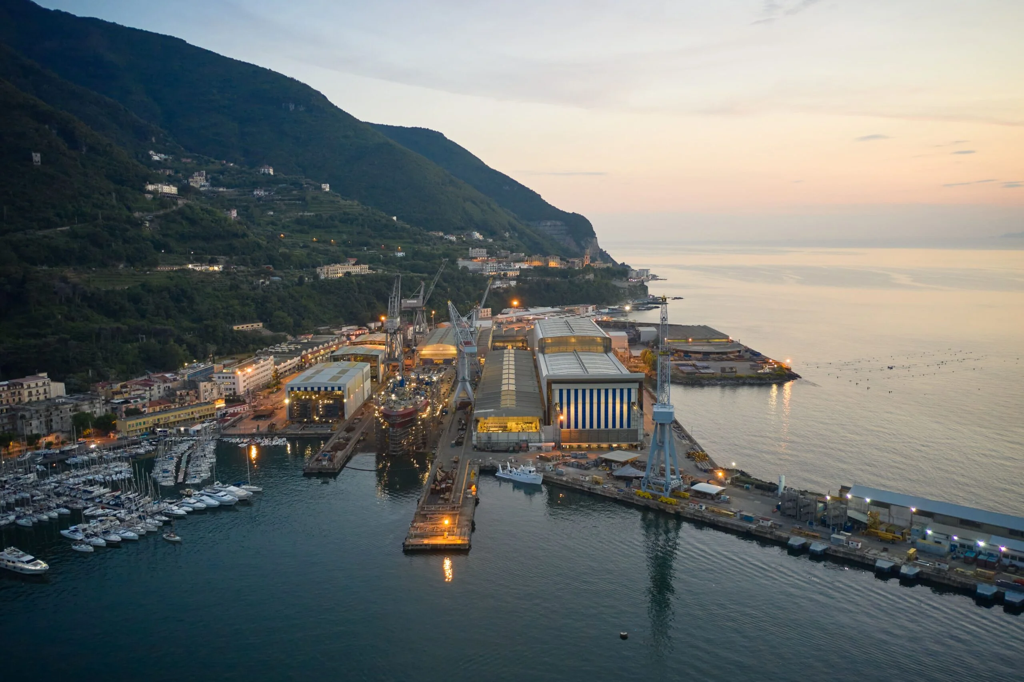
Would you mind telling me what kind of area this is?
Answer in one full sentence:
The picture captures a port.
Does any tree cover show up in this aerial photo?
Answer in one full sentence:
Yes, tree cover shows up in the scene.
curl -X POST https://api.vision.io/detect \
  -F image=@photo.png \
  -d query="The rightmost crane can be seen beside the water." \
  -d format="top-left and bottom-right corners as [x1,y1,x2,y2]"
[635,292,689,497]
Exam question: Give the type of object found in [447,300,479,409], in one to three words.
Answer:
crane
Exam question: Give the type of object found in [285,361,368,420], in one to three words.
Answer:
building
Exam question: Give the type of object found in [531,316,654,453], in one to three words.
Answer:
building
